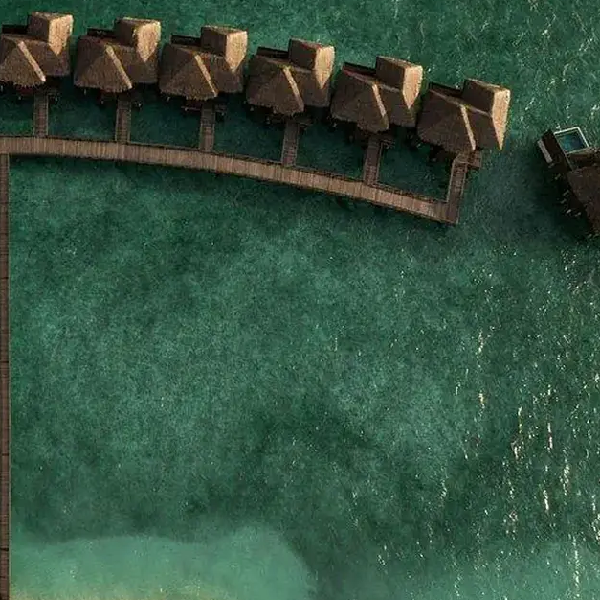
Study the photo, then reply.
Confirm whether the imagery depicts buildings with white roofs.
No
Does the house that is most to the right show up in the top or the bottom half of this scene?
top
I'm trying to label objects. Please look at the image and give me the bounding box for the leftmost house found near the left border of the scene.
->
[0,12,73,110]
